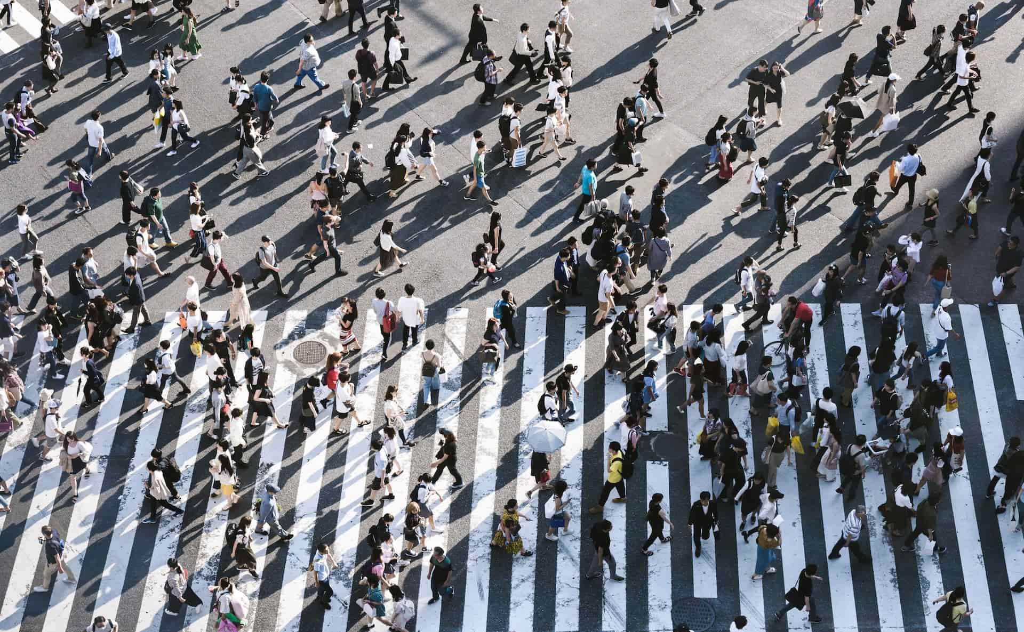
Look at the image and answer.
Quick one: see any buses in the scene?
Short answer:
No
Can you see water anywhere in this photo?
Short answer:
No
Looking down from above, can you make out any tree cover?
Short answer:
No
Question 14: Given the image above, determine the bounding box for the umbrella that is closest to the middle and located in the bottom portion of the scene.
[524,414,572,464]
